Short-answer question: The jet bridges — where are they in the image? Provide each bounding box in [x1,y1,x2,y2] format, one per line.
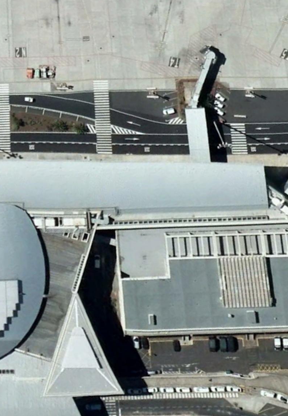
[189,40,218,107]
